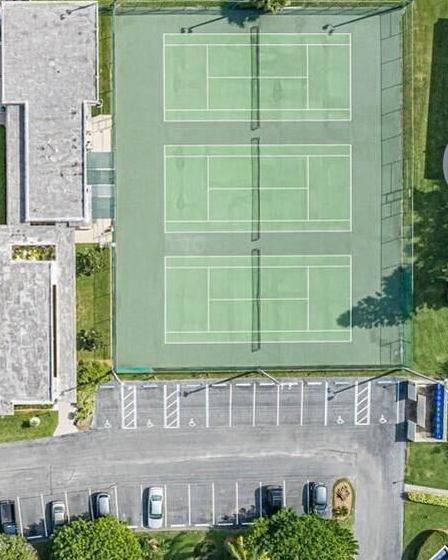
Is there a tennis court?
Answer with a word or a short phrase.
Yes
